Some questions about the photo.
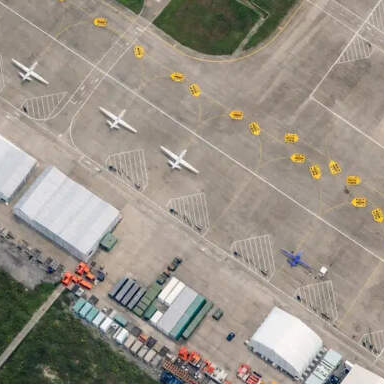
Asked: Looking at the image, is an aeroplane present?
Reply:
Yes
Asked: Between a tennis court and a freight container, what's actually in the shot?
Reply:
freight container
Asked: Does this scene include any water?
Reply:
No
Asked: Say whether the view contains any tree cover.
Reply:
No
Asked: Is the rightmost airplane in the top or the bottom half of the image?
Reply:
bottom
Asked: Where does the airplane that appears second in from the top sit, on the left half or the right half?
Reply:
left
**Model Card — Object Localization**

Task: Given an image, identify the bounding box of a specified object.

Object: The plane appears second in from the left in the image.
[100,106,136,133]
